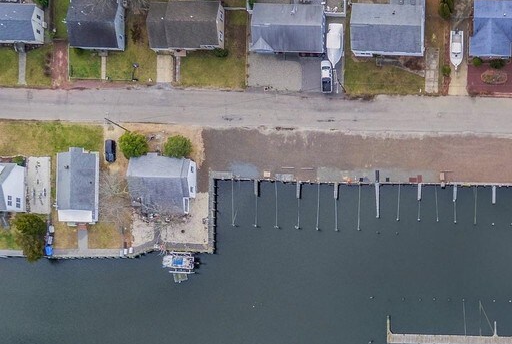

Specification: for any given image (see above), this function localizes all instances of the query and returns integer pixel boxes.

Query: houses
[349,0,426,64]
[62,0,126,58]
[57,146,100,230]
[0,2,45,52]
[469,0,512,60]
[248,0,324,57]
[0,162,30,214]
[143,0,224,57]
[119,150,197,215]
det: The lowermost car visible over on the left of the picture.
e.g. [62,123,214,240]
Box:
[104,139,118,164]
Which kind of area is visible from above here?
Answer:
residential area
